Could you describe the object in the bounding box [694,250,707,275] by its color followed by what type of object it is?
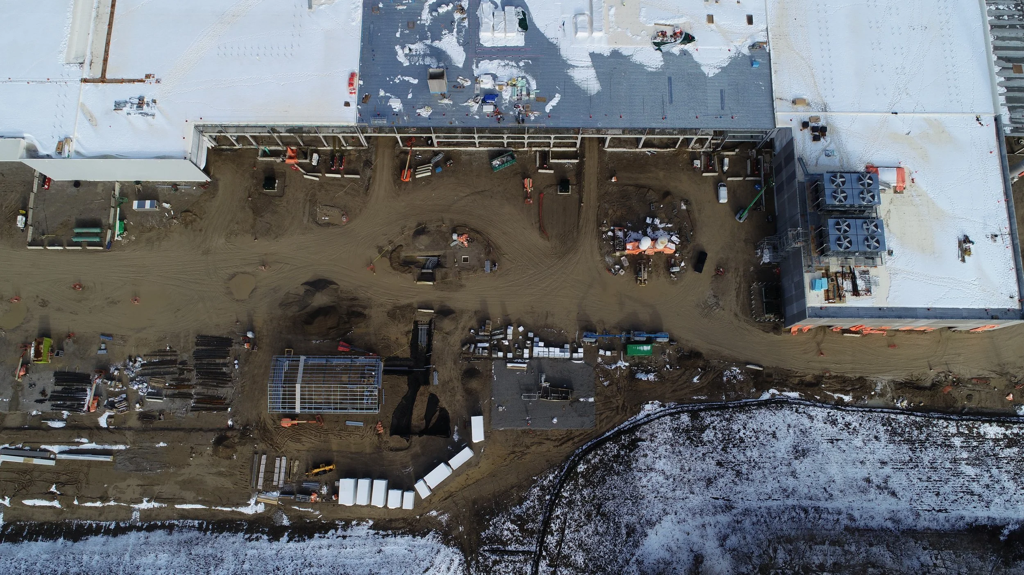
black vehicle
